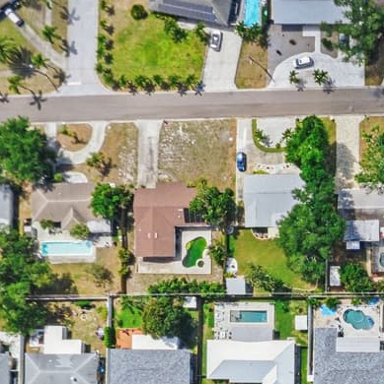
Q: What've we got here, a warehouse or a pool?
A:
pool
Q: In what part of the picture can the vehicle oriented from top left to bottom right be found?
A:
top left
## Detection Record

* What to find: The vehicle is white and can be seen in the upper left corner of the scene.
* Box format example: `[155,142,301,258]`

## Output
[2,6,24,27]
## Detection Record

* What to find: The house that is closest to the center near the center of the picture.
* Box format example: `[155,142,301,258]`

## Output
[128,183,208,258]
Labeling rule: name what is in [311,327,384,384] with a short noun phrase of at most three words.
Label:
house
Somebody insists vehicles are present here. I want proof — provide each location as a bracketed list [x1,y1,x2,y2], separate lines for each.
[236,152,246,171]
[209,29,221,50]
[2,6,24,27]
[339,28,348,47]
[293,54,313,66]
